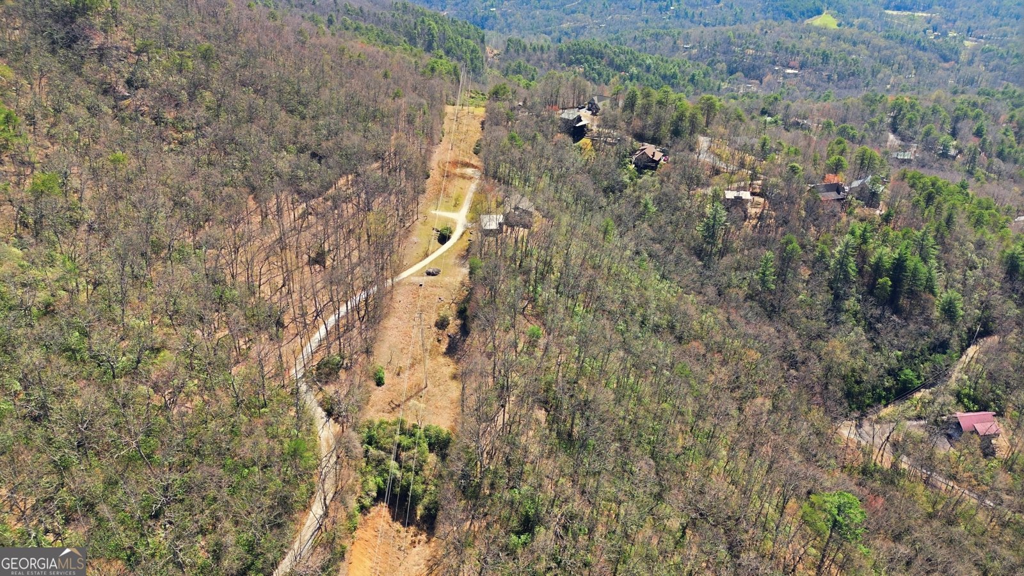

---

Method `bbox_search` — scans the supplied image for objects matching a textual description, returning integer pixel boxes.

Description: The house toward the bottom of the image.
[944,415,1012,447]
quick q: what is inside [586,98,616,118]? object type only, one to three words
house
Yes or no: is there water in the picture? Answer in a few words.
No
